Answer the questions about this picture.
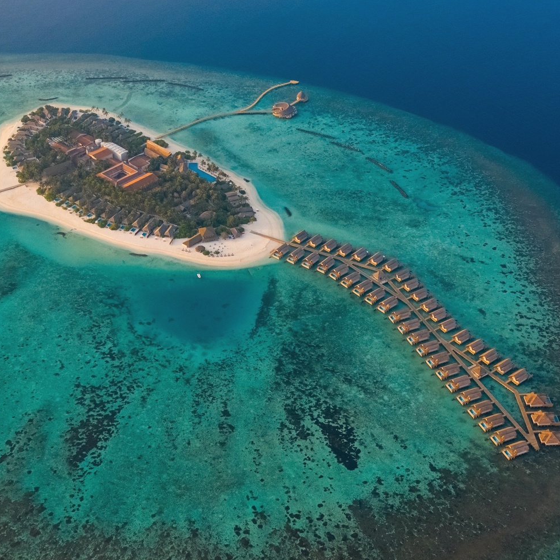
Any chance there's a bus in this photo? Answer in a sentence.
No, there is no bus in the image.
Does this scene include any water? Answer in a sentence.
Yes, some water is visible.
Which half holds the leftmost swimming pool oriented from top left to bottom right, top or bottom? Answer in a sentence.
The top half of the photo is where the leftmost swimming pool oriented from top left to bottom right is.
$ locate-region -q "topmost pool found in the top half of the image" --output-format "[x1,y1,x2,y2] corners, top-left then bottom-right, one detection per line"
[187,162,216,184]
